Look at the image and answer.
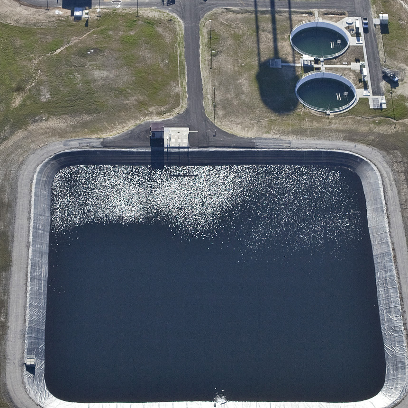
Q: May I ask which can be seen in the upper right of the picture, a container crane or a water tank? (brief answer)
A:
water tank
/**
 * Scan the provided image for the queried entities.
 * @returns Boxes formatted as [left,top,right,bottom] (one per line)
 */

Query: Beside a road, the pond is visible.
[22,148,408,408]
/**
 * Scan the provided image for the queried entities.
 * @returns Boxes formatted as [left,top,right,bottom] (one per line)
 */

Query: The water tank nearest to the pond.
[293,70,362,117]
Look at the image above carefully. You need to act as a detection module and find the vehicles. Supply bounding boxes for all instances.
[362,19,370,32]
[378,66,403,82]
